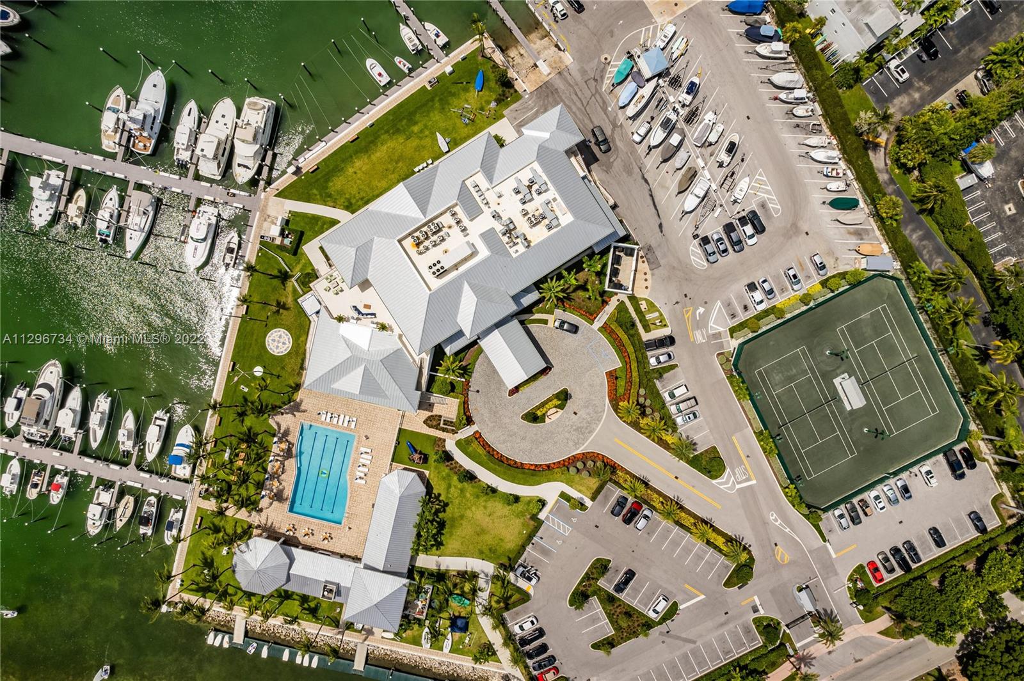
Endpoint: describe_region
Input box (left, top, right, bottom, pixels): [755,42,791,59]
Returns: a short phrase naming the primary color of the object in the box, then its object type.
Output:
white boat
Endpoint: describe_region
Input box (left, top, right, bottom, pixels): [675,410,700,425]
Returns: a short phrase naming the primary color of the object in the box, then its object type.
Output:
white car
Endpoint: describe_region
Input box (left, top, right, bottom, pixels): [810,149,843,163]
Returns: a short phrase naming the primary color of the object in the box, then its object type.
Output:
white boat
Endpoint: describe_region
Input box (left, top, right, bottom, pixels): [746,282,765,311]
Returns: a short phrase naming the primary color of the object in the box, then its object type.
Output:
white vehicle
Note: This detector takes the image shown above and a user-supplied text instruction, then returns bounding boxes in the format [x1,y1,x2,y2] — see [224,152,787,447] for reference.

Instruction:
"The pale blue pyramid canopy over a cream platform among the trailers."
[634,44,670,81]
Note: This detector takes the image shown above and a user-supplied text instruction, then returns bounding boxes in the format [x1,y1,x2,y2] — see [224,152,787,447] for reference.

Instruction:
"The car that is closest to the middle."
[554,320,580,335]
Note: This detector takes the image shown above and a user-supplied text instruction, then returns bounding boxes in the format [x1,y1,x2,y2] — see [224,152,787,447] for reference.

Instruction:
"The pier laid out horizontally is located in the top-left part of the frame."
[0,130,259,210]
